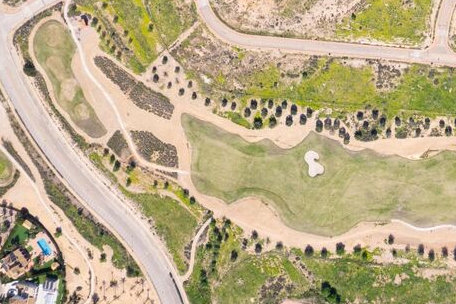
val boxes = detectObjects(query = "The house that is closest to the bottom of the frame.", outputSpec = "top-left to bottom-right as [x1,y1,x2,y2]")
[7,280,41,304]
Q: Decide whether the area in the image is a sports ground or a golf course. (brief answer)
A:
golf course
